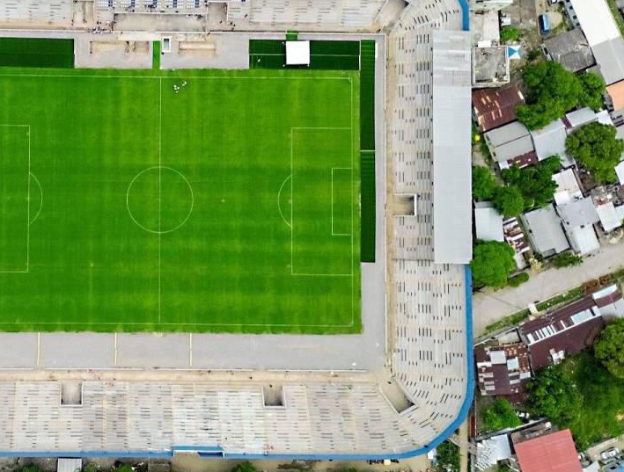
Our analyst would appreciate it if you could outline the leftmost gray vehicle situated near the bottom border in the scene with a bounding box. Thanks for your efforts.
[578,449,590,463]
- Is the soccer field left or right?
left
